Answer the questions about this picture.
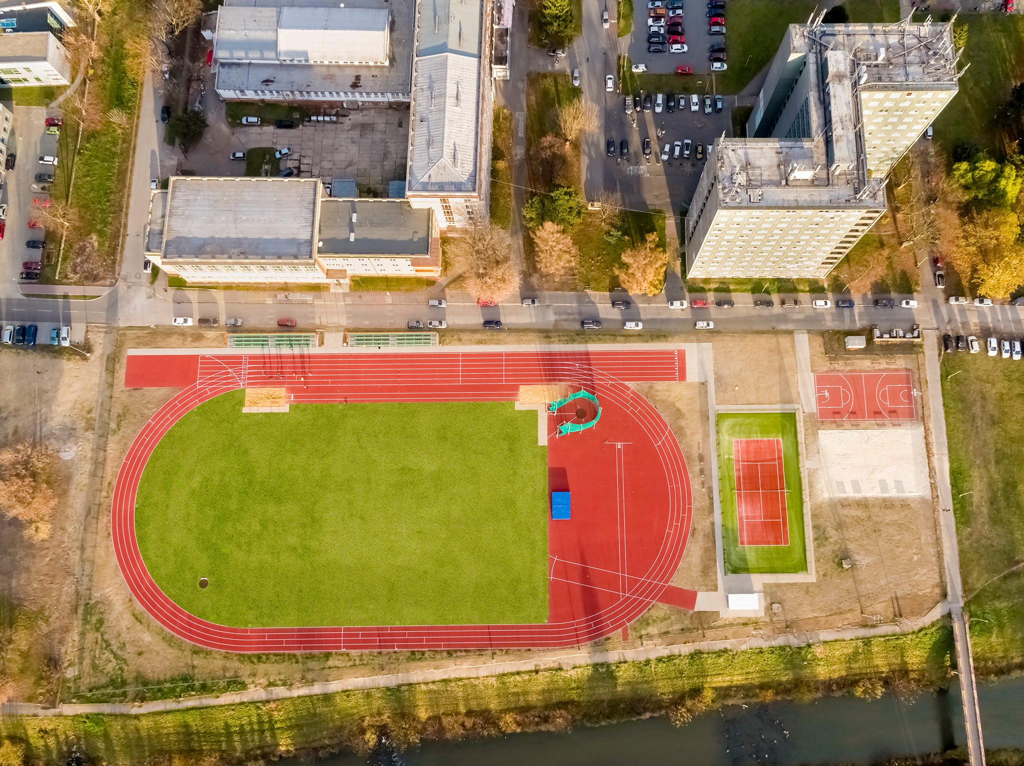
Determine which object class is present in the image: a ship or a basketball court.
basketball court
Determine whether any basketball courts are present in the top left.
No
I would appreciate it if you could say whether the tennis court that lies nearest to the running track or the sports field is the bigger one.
the sports field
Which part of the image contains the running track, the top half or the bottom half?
bottom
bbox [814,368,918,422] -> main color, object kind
red basketball court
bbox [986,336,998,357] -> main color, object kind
white vehicle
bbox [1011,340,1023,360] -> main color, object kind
white vehicle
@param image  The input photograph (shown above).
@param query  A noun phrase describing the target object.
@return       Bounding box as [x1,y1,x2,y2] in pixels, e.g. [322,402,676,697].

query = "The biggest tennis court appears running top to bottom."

[718,412,807,574]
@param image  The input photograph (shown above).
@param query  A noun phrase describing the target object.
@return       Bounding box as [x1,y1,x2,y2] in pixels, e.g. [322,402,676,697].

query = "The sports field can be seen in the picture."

[134,388,549,628]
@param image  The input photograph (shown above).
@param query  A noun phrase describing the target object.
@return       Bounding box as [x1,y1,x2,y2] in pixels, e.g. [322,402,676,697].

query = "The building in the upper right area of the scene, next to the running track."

[683,23,960,282]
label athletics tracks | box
[111,349,697,652]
